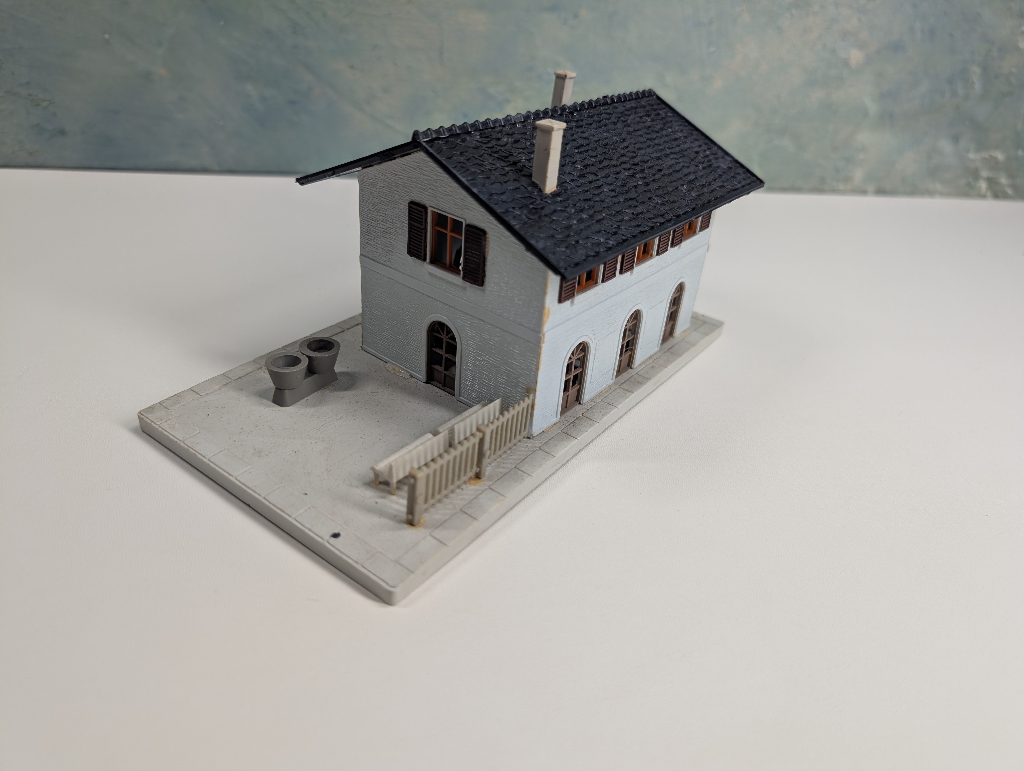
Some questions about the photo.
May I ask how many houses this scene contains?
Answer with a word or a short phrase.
one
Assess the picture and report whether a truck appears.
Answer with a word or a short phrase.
No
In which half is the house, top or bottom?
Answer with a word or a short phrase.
top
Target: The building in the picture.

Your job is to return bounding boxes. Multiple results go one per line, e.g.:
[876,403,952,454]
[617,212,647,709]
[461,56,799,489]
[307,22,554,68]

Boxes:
[298,71,766,438]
